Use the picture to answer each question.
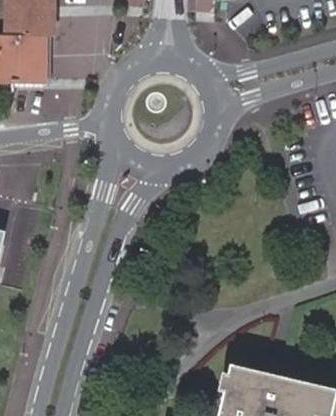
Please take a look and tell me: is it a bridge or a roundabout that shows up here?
roundabout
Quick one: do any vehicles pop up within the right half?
Yes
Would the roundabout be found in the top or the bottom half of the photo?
top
